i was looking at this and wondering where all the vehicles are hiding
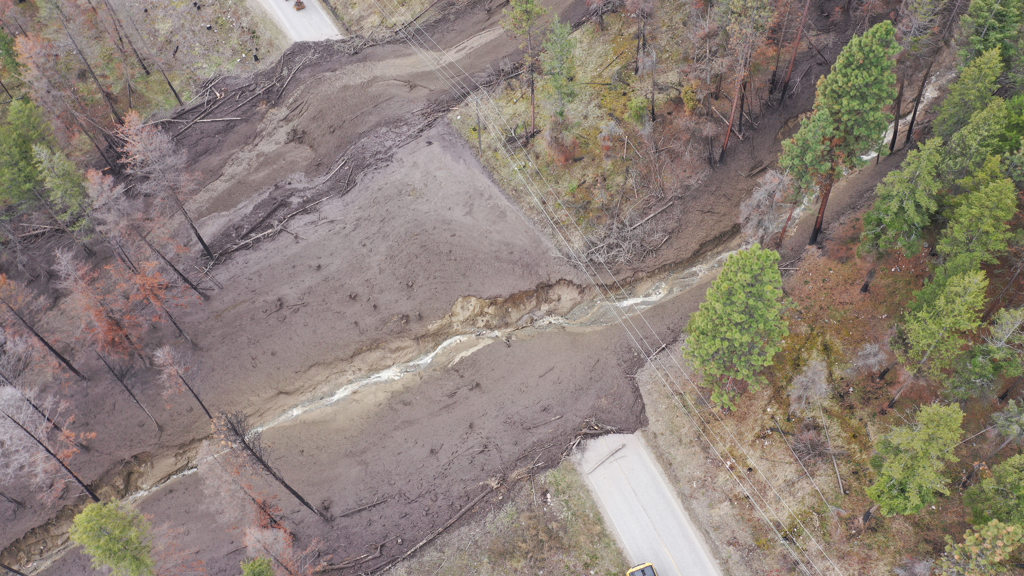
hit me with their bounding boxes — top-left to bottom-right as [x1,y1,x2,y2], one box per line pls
[292,0,307,15]
[625,561,661,576]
